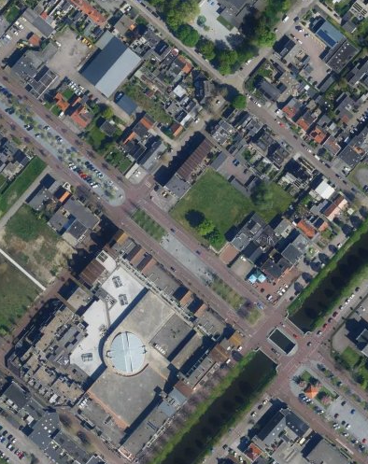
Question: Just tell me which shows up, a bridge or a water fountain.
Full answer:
Visible in the photo is a bridge.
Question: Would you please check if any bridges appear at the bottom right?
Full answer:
Yes, looking at the bottom right, one can make out a bridge.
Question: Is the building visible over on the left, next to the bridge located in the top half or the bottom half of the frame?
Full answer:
You can find the building visible over on the left, next to the bridge in the bottom half.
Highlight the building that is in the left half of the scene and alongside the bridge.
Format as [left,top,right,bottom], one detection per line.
[6,238,245,463]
